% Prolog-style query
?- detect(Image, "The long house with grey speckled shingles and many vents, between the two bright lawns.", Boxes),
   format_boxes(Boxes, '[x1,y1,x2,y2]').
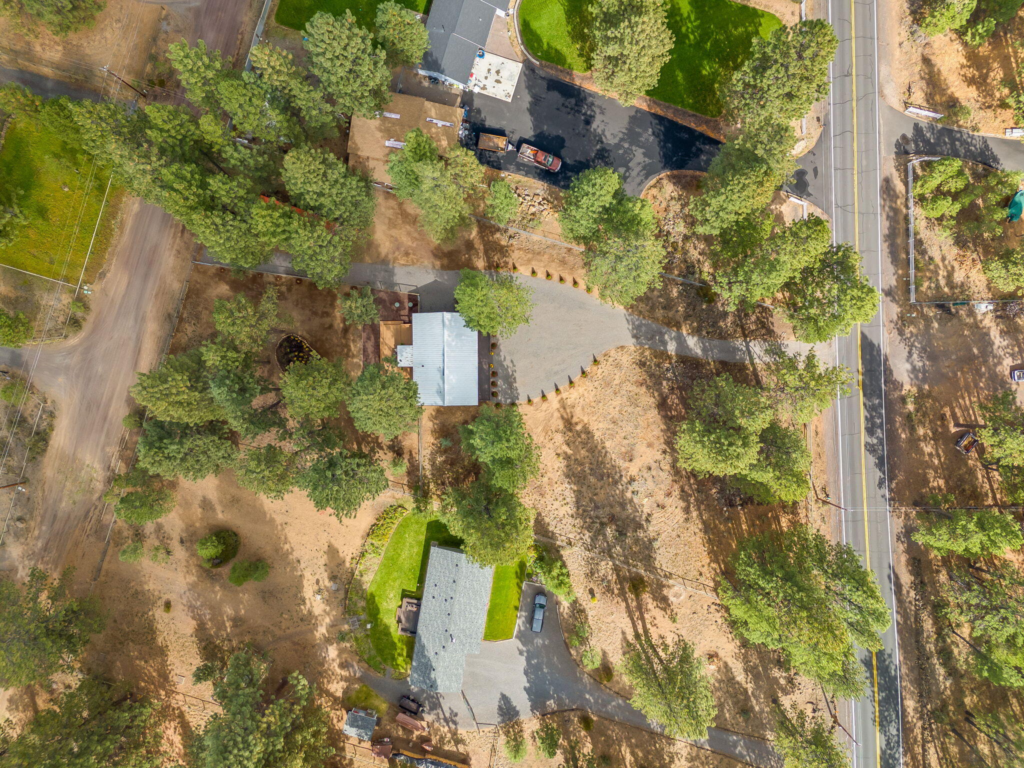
[409,537,495,692]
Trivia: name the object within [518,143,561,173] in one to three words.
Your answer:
truck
